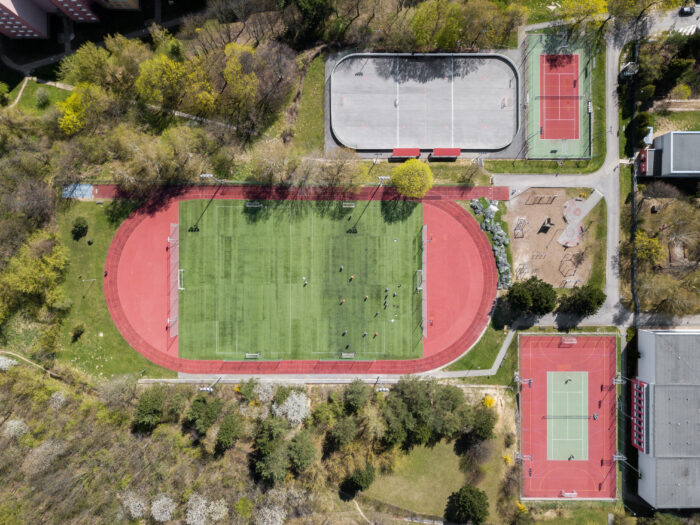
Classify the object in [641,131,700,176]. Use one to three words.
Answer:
building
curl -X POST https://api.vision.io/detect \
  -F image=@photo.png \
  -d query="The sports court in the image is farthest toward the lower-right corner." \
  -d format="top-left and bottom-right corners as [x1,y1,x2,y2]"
[517,334,618,501]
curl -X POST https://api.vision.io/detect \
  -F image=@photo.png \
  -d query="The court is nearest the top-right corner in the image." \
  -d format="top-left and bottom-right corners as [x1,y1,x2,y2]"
[528,33,591,158]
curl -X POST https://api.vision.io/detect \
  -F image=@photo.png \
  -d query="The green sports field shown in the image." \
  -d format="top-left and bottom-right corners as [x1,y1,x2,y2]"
[178,200,423,360]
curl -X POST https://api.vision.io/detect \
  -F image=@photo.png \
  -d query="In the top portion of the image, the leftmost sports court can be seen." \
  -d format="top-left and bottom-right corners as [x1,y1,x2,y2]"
[331,52,521,152]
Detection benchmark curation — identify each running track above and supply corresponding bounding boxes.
[93,184,509,376]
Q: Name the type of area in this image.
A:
sports ground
